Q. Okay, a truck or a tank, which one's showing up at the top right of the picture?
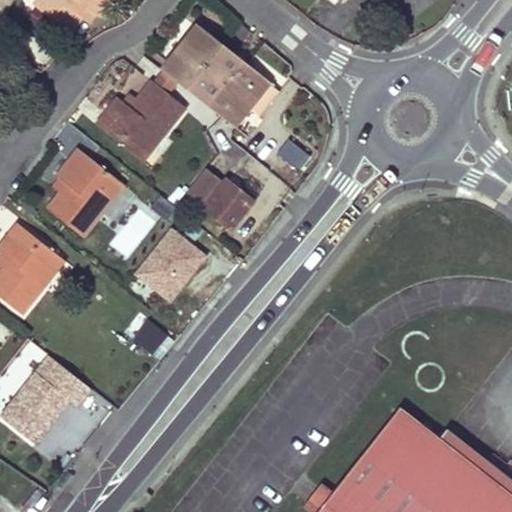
truck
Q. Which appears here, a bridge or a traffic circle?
traffic circle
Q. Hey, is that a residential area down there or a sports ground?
residential area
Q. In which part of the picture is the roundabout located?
top right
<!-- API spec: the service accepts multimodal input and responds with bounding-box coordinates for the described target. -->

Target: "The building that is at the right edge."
[318,408,512,512]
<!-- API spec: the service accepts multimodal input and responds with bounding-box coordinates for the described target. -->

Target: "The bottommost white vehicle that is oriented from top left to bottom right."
[261,485,282,503]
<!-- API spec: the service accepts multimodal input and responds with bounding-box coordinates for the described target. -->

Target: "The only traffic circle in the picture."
[385,92,438,145]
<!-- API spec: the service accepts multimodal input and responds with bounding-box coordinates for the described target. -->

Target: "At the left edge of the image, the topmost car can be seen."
[10,170,27,192]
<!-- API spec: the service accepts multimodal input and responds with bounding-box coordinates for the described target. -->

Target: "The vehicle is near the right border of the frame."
[468,30,501,72]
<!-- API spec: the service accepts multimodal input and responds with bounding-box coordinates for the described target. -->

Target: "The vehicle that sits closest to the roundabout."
[390,76,410,94]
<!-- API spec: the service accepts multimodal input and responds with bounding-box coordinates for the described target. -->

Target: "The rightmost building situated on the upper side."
[277,137,312,170]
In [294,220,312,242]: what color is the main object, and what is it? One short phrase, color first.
gray car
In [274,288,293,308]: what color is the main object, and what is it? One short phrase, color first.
white car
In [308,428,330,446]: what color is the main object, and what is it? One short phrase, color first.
white car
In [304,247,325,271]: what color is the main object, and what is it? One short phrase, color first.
white vehicle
